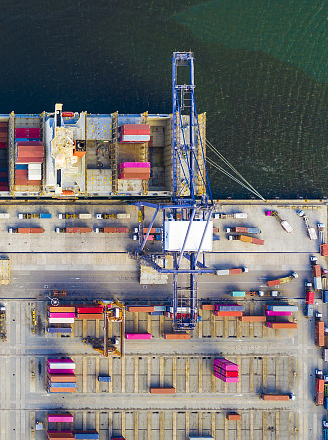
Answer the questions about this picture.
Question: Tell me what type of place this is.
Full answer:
It's a port.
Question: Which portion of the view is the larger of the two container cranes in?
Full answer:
The larger of the two container cranes appears toward the center of the photo.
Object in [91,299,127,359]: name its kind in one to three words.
container crane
